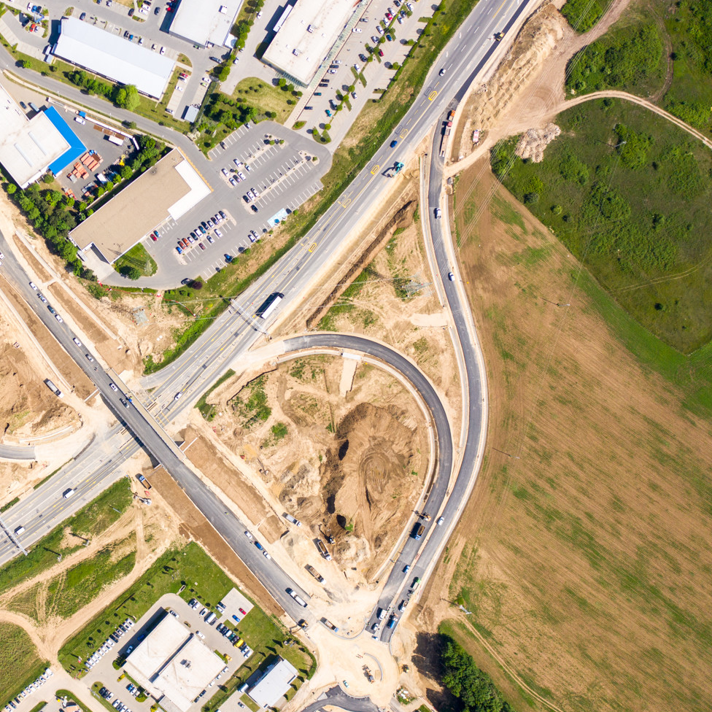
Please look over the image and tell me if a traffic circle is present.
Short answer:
Yes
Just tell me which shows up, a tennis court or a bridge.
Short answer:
bridge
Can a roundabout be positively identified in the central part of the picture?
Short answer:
No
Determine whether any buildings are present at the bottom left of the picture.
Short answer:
Yes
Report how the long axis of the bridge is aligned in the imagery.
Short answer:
on a diagonal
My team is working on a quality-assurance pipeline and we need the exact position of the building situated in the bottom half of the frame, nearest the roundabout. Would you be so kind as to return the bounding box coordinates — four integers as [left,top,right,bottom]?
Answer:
[248,656,297,706]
